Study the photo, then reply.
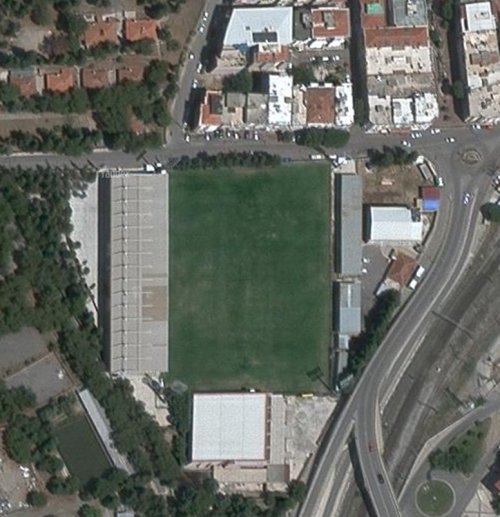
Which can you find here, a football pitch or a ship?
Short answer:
football pitch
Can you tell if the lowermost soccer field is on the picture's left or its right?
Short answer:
left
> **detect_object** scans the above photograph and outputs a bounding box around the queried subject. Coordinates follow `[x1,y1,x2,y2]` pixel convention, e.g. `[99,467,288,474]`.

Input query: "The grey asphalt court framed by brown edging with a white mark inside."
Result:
[5,353,75,403]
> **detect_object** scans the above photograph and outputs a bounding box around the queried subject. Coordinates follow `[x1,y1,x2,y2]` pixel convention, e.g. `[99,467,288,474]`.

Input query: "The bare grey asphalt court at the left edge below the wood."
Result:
[0,329,49,372]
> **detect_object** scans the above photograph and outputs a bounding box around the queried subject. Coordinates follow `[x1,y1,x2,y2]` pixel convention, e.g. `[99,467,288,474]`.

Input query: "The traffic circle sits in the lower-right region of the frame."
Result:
[414,477,454,517]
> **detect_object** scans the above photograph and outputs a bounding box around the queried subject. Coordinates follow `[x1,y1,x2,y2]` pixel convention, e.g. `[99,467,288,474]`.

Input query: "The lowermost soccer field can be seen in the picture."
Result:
[54,412,114,484]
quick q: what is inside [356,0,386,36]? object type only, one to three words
building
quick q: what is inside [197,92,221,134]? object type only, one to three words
building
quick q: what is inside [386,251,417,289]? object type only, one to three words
house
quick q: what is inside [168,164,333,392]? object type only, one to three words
soccer field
